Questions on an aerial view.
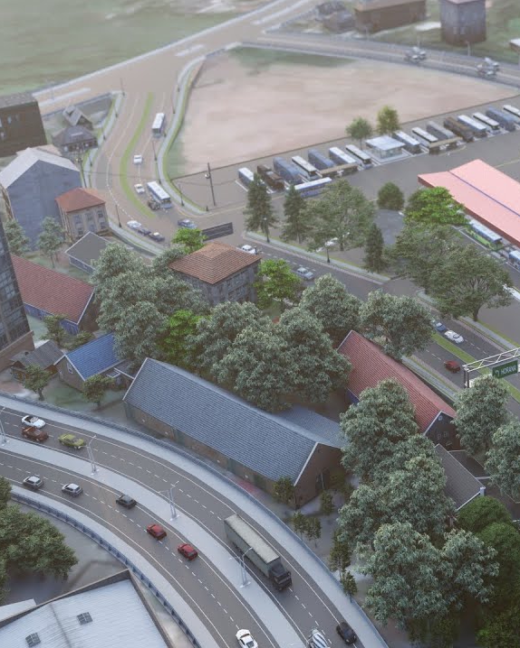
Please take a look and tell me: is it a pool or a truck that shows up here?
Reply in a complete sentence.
The image shows a truck.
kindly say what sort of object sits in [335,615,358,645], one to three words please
car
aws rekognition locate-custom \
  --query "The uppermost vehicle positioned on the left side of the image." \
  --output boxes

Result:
[151,115,167,139]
